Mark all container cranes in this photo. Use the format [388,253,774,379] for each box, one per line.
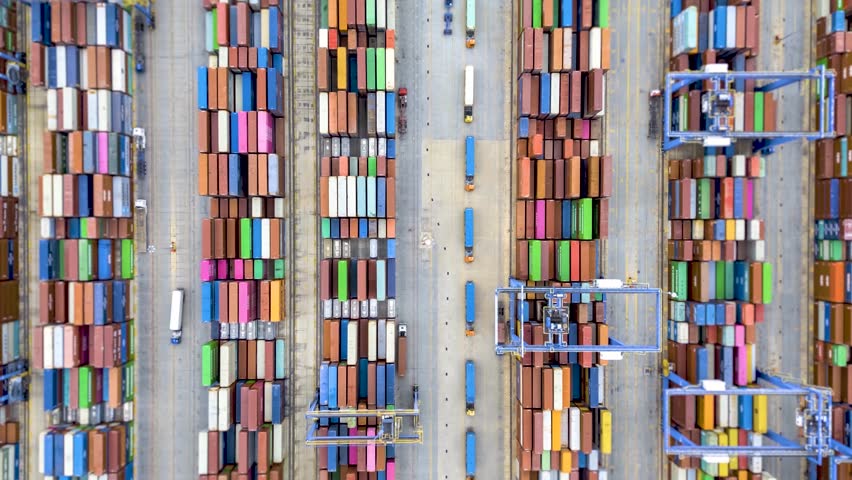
[660,359,840,473]
[300,387,421,445]
[661,58,843,162]
[493,268,666,366]
[0,350,32,404]
[0,0,153,30]
[0,43,30,97]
